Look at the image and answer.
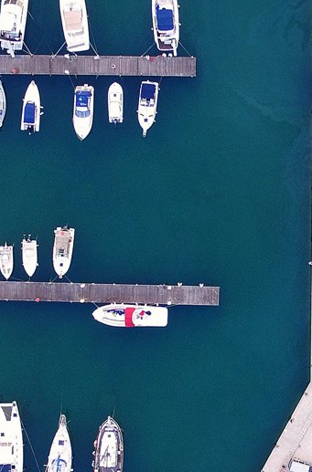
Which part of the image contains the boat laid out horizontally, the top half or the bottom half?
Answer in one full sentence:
It is in the bottom half that the boat laid out horizontally appears.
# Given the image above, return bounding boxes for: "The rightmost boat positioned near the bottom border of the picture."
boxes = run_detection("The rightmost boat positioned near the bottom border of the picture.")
[92,416,123,472]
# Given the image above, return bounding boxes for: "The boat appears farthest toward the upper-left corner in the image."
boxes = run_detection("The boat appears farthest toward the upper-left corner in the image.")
[0,0,28,57]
